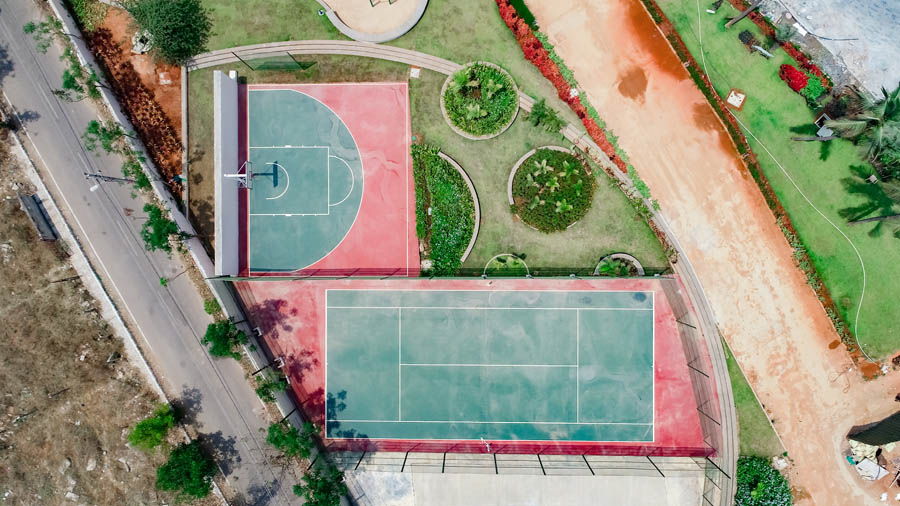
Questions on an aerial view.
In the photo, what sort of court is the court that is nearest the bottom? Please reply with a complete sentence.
It turns out the court that is nearest the bottom is a tennis court.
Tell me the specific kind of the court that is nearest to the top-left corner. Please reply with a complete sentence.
From above, the court that is nearest to the top-left corner can be identified as a basketball court.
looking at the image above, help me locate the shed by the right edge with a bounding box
[846,411,900,445]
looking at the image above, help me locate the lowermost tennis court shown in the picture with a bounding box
[225,278,722,457]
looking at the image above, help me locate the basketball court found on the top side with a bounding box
[237,82,419,277]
